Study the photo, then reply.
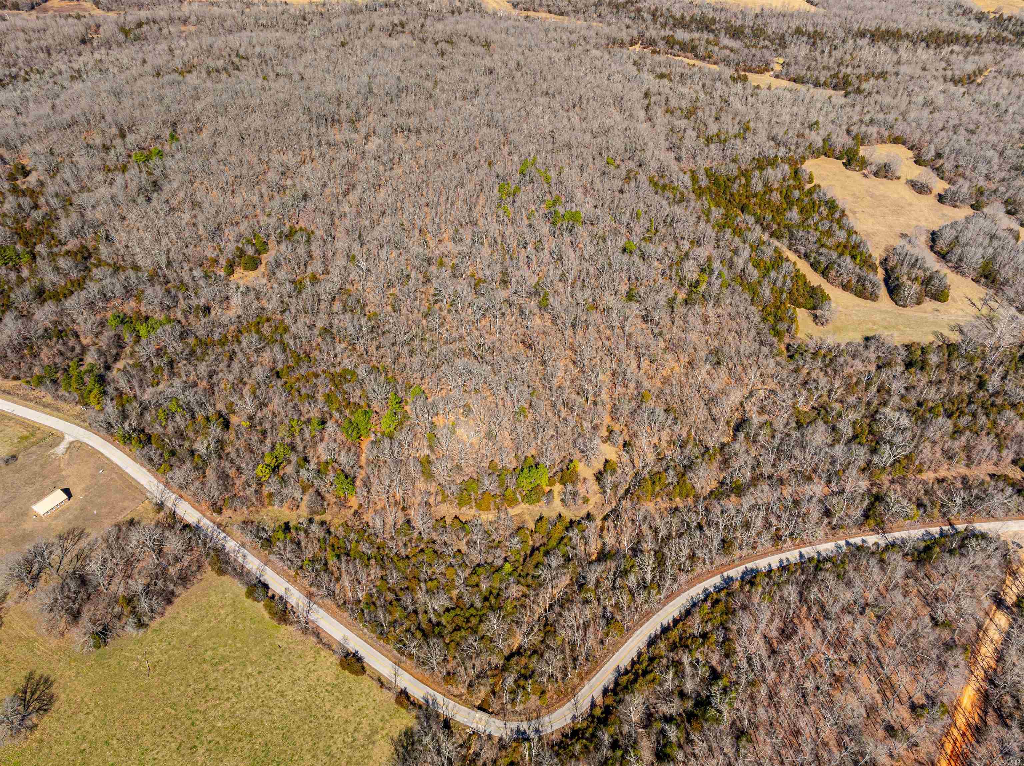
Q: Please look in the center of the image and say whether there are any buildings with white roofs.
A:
No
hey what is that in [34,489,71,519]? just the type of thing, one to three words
building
